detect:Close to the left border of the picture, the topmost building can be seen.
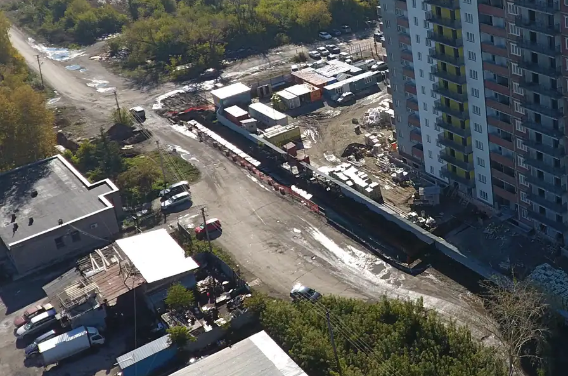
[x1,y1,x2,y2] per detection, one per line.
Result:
[0,153,125,274]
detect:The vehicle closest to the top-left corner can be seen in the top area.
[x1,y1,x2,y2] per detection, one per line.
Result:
[130,106,145,121]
